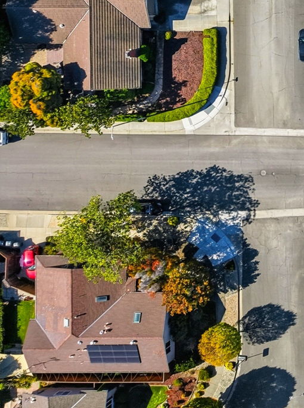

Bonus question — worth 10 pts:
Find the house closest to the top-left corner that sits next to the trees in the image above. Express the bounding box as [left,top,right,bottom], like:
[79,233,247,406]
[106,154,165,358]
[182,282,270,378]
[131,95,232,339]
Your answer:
[1,0,157,92]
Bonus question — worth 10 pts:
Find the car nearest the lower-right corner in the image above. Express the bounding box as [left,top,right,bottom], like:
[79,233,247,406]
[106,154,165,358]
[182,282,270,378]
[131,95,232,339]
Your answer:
[135,199,169,215]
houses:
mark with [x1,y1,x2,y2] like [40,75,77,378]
[21,384,117,408]
[17,254,175,383]
[1,0,157,92]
